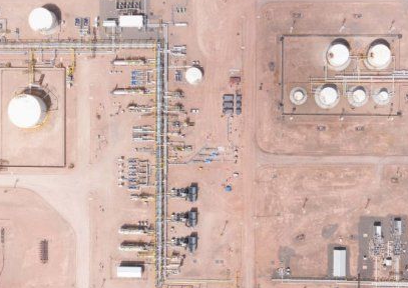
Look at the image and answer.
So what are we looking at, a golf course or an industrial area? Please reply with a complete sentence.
This looks like an industrial area.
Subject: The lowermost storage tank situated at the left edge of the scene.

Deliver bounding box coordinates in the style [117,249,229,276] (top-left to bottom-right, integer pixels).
[9,87,54,129]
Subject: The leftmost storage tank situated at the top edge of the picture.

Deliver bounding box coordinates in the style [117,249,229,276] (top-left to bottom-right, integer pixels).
[26,6,59,35]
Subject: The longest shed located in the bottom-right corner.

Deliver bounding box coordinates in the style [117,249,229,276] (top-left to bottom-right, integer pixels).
[333,248,346,276]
